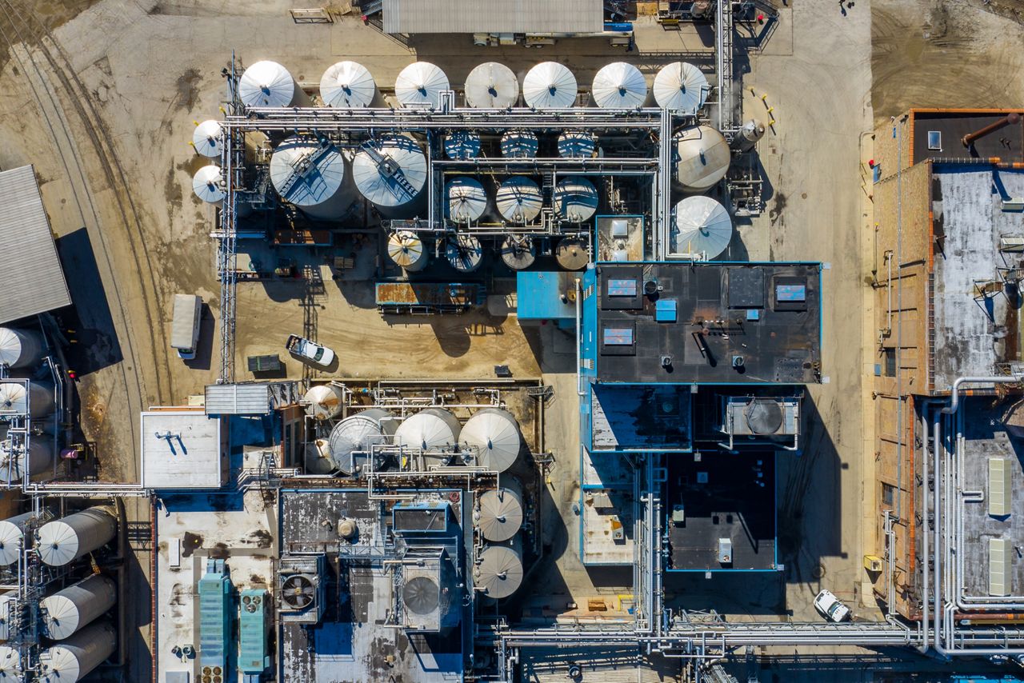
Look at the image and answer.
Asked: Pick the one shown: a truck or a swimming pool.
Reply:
truck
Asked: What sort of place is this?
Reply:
industrial area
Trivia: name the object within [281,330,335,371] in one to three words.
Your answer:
truck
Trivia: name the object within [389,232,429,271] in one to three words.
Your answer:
storage tank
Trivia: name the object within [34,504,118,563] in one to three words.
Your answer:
storage tank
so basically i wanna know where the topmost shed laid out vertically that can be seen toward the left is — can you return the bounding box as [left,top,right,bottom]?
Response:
[0,164,73,325]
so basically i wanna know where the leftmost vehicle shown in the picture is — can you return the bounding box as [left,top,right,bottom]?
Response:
[169,294,210,363]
